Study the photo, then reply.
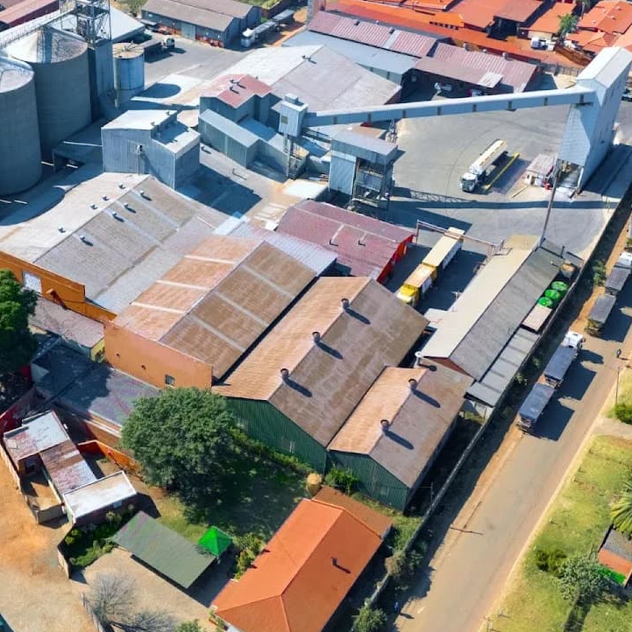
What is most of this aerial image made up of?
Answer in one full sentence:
The bulk of the photo consists of buildings.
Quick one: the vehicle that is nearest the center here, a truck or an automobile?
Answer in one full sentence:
It looks like the vehicle that is nearest the center is a truck.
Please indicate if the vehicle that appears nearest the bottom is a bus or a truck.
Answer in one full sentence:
The vehicle that appears nearest the bottom in the image is a truck.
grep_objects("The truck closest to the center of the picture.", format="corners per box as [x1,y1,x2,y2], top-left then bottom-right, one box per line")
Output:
[408,216,468,299]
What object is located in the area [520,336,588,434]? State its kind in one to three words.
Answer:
truck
